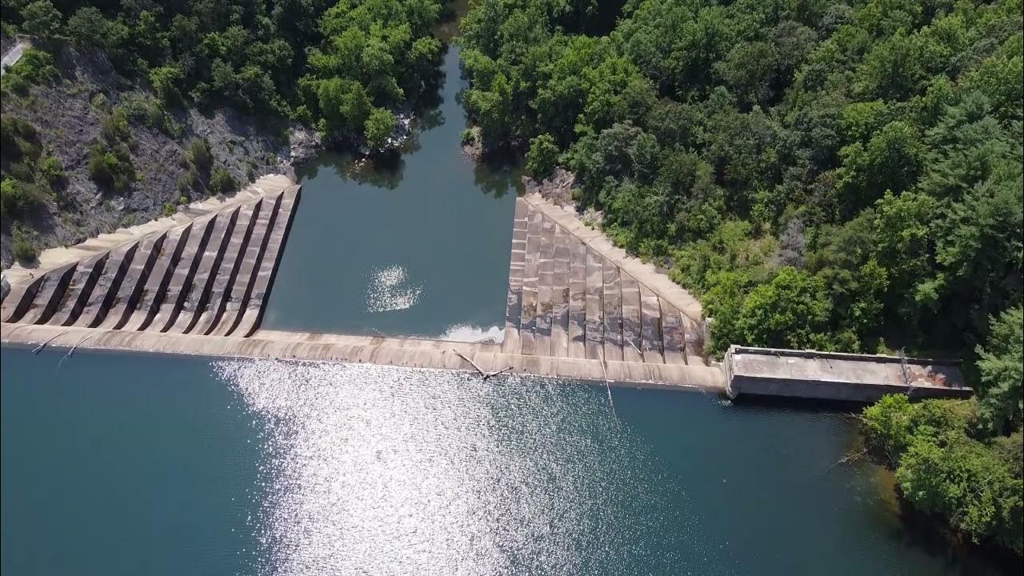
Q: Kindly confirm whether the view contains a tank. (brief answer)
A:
No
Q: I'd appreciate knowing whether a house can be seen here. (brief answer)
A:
No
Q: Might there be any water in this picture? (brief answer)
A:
Yes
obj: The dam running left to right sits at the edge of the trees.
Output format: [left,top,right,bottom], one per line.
[0,171,716,387]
